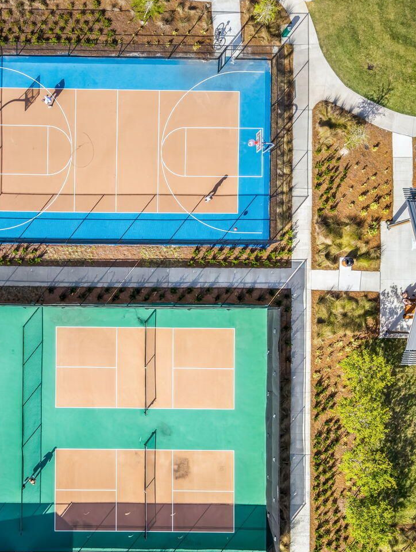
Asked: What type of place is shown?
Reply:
sports ground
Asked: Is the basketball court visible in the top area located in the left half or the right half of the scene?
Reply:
left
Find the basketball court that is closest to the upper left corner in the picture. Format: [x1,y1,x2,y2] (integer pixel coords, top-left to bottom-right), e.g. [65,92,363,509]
[0,55,271,248]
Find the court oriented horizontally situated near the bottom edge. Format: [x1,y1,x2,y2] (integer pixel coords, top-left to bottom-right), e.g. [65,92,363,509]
[54,448,234,532]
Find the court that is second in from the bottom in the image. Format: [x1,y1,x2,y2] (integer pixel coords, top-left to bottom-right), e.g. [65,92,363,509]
[55,327,236,409]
